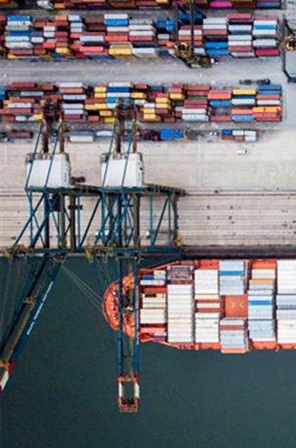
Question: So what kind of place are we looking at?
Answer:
port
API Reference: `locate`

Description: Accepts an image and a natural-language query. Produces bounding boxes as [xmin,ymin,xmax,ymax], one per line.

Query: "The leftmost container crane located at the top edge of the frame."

[173,3,212,72]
